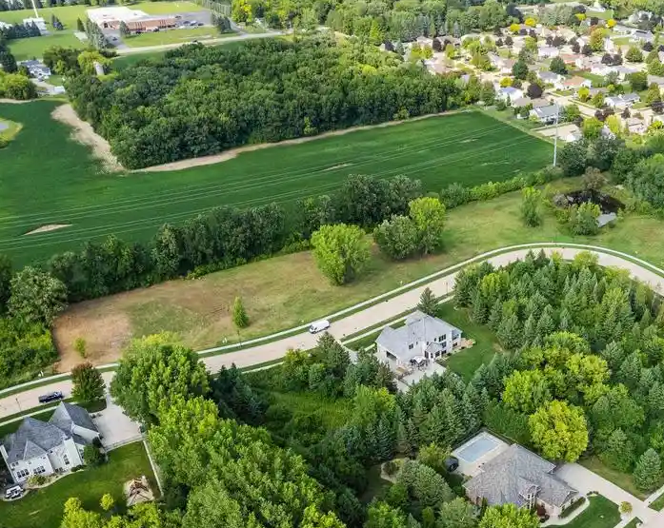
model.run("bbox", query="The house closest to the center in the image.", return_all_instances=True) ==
[377,306,462,362]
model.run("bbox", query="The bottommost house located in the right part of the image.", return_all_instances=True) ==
[459,446,580,521]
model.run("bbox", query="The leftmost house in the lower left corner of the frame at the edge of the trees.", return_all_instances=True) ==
[0,409,100,482]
